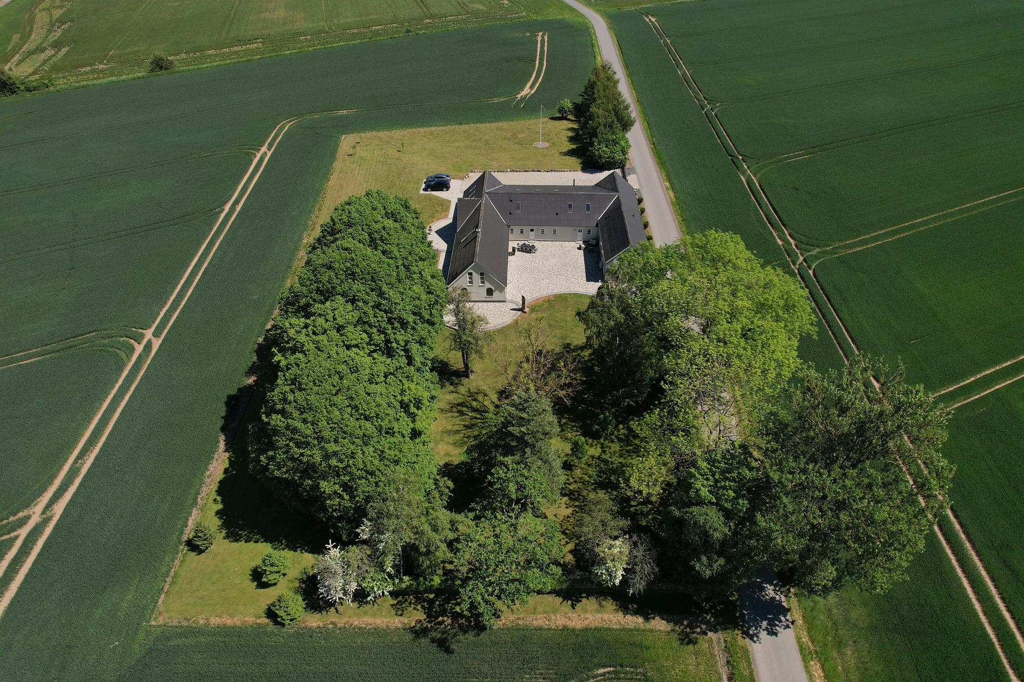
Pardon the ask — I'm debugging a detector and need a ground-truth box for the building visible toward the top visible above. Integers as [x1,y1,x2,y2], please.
[446,170,651,301]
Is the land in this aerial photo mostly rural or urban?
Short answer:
rural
